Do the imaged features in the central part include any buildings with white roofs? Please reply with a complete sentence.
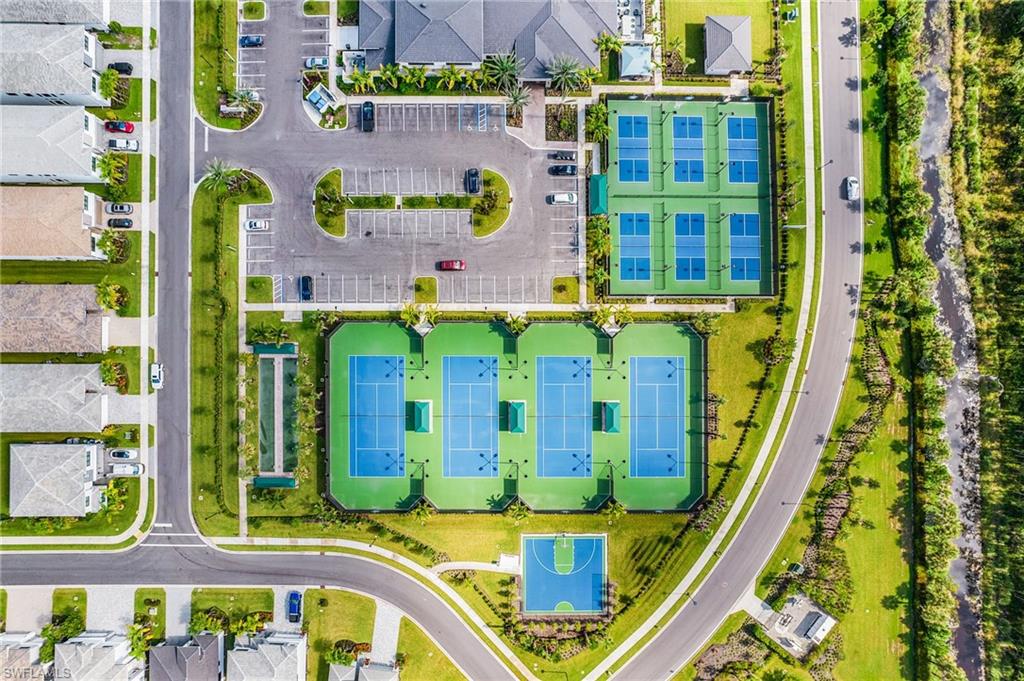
No, no building with a white roof is visible in the central part.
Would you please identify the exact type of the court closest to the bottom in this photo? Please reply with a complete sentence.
The court closest to the bottom appears to be a basketball court.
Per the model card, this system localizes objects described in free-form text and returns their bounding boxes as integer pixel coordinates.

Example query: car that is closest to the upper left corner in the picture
[108,61,135,75]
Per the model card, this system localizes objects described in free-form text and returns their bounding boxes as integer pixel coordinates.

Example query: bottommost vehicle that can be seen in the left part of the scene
[288,590,301,621]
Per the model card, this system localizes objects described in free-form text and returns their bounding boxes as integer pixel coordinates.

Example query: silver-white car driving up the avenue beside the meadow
[845,175,861,202]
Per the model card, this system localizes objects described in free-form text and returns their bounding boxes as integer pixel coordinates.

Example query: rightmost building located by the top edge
[704,16,751,78]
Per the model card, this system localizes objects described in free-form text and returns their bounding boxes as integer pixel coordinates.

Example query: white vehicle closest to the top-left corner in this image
[109,138,140,151]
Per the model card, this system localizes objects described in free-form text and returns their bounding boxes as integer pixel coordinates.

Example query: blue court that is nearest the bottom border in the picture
[521,534,607,614]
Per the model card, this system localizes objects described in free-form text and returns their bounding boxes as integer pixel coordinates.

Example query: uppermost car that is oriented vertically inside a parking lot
[361,103,374,131]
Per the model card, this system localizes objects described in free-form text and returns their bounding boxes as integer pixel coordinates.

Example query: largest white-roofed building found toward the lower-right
[806,610,837,646]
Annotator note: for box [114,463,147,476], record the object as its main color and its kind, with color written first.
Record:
white vehicle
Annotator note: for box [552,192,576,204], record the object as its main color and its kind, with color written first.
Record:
white vehicle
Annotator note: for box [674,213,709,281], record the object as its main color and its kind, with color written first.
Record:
blue sports court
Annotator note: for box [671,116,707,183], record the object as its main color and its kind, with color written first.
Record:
blue sports court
